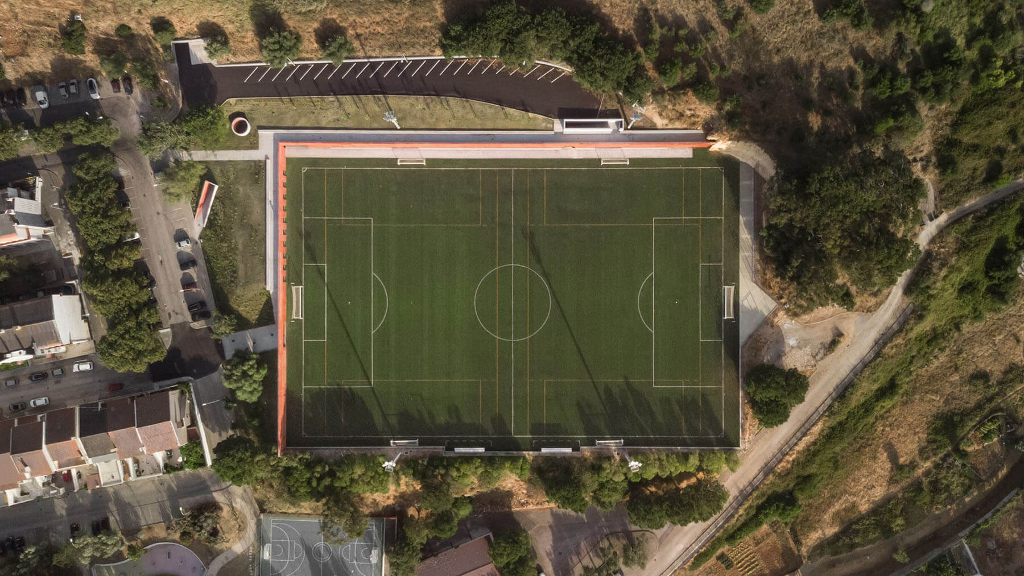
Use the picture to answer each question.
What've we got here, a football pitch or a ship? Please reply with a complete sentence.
The image shows a football pitch.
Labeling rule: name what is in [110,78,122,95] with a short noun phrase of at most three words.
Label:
vehicle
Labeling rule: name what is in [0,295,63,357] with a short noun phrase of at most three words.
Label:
house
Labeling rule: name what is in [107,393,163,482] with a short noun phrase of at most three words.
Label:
house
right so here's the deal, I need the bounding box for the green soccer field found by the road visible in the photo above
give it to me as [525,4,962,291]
[284,147,740,452]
